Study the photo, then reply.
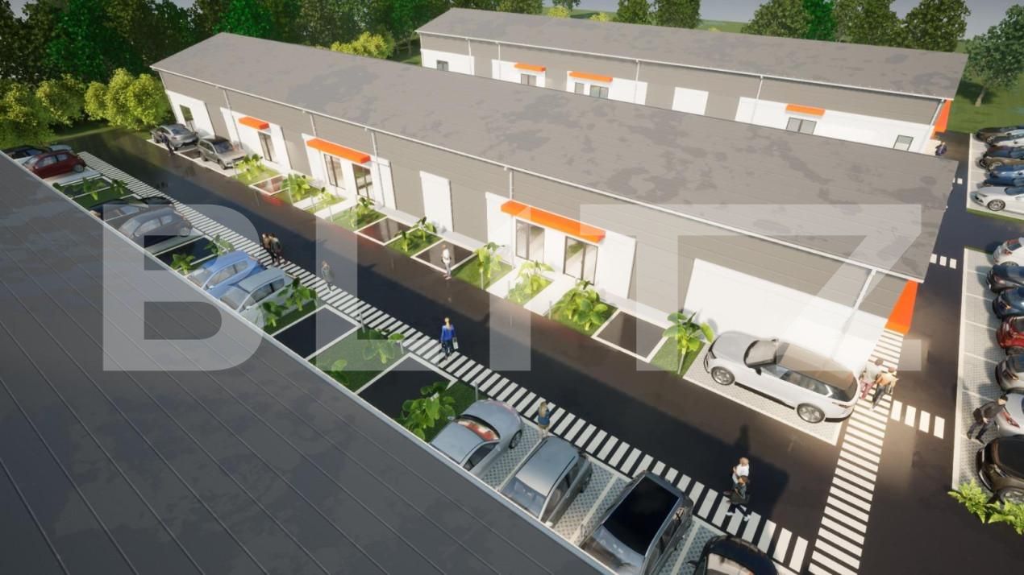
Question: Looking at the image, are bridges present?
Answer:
No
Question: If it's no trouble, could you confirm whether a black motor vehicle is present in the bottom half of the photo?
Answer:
Yes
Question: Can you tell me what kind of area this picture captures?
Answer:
industrial area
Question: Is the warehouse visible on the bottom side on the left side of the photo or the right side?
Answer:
left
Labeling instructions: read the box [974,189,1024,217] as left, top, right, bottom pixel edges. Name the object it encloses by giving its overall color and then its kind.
white car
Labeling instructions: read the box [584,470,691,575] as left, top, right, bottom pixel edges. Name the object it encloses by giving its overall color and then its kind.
black car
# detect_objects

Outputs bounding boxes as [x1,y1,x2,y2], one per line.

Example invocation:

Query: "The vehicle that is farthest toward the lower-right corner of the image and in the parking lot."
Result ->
[978,434,1024,501]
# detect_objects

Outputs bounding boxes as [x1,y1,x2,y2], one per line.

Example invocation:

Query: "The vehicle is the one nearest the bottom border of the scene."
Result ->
[696,537,784,575]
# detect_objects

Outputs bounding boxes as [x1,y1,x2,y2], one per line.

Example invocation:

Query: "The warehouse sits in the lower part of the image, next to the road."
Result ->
[0,148,632,575]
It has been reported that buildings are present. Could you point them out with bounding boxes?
[151,32,960,377]
[0,148,632,575]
